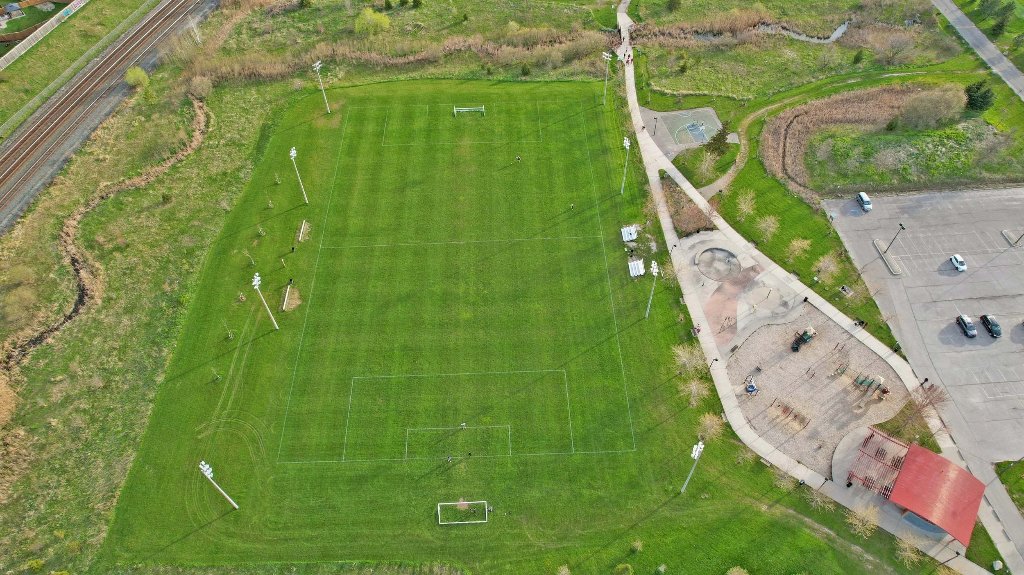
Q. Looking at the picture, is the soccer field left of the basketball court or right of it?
to the left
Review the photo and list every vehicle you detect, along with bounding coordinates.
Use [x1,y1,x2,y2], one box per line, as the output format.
[958,315,979,338]
[981,315,1004,338]
[950,255,969,272]
[855,194,873,212]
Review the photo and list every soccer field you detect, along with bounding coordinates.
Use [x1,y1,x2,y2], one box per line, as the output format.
[273,99,641,467]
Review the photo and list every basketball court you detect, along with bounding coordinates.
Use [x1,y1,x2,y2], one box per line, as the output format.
[659,109,727,144]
